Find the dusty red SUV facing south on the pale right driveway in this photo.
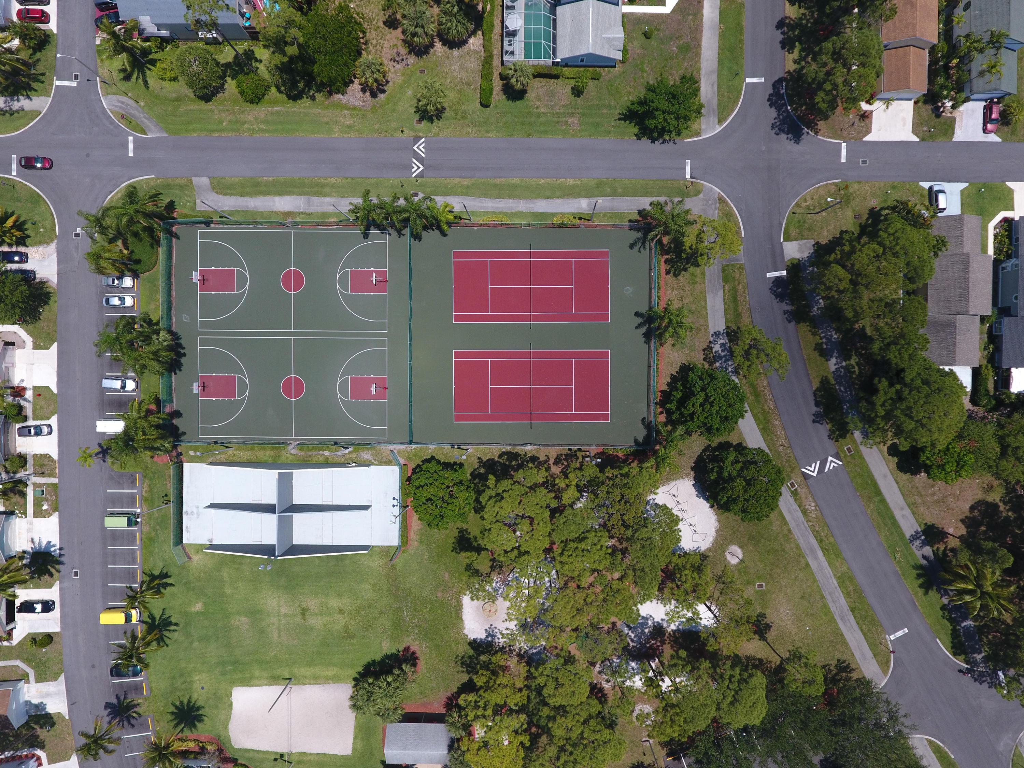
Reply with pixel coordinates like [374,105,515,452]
[981,100,999,135]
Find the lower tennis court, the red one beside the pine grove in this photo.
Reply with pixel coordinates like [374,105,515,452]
[453,349,610,423]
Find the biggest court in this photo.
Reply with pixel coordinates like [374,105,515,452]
[174,227,649,444]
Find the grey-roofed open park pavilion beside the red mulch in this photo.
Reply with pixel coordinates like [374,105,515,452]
[384,714,449,764]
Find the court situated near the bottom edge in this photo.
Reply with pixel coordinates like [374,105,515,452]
[229,684,355,755]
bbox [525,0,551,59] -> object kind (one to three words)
swimming pool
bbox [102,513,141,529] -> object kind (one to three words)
vehicle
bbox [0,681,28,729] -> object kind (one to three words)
house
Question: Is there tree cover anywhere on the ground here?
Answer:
Yes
